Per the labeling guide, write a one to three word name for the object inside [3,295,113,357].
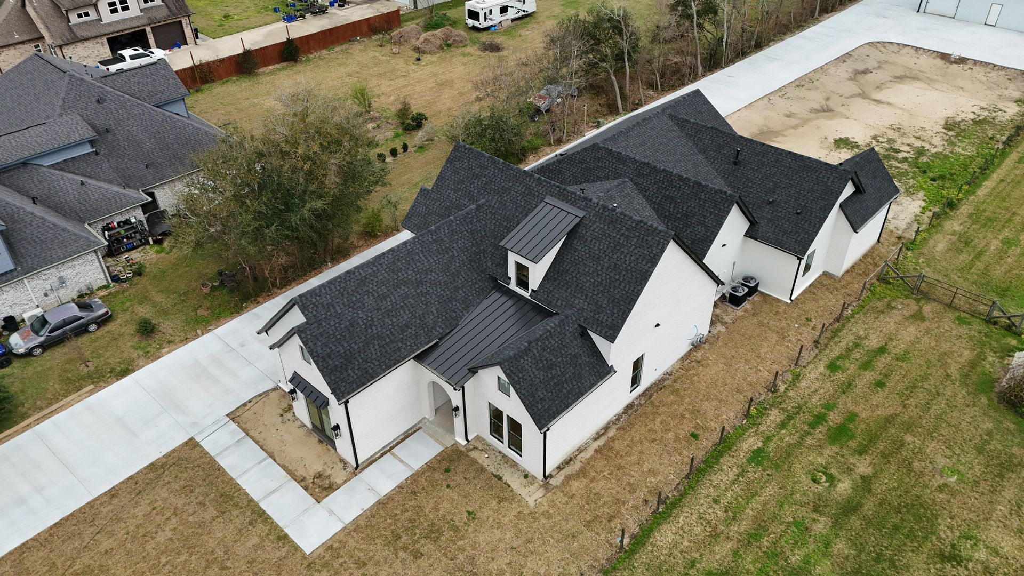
car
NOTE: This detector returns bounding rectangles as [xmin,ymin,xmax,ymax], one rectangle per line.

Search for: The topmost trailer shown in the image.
[466,0,538,30]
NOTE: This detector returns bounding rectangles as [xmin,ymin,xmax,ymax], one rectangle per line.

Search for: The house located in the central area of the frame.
[253,89,902,481]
